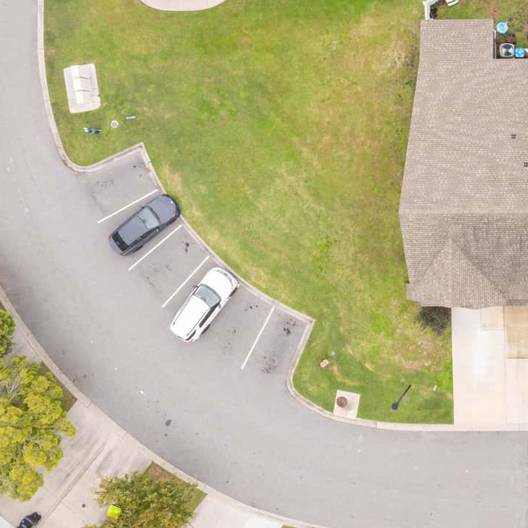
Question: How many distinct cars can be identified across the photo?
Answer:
2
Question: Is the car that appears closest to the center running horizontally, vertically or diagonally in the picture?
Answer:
diagonally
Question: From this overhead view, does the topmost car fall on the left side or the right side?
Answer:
left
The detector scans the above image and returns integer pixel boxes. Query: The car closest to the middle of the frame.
[170,266,243,344]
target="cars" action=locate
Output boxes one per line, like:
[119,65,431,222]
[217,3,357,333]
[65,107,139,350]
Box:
[107,198,186,258]
[170,266,243,344]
